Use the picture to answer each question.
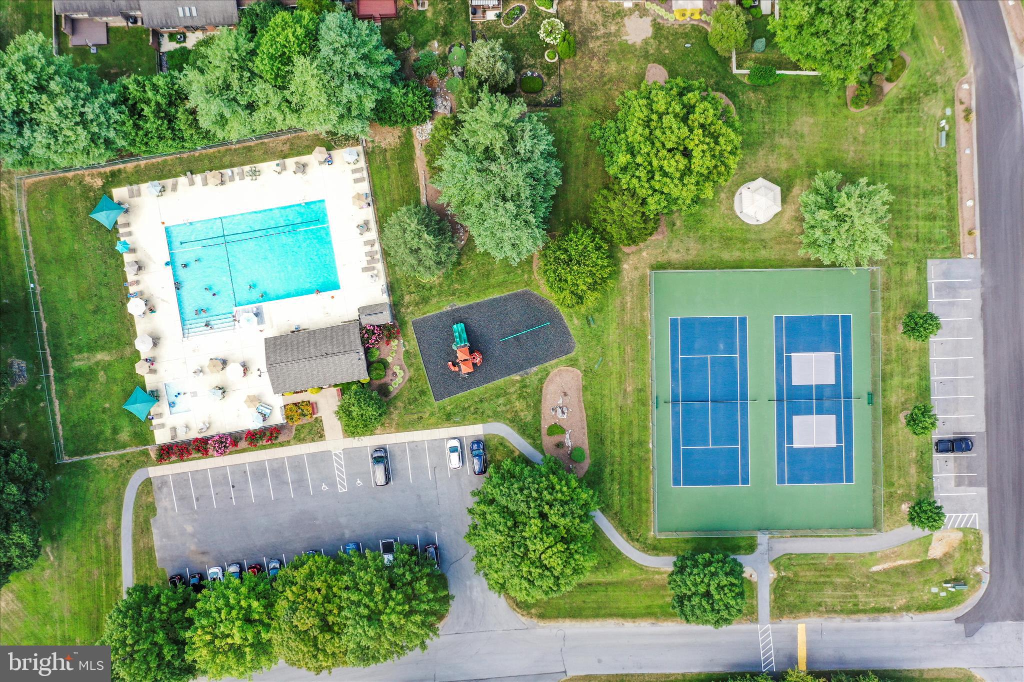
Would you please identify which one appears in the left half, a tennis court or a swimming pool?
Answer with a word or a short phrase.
swimming pool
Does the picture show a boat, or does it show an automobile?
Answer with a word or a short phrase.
automobile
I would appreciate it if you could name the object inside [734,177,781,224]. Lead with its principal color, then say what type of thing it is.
white gazebo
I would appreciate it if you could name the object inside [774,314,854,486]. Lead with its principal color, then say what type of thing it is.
blue tennis court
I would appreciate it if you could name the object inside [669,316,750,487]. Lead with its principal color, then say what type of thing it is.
blue tennis court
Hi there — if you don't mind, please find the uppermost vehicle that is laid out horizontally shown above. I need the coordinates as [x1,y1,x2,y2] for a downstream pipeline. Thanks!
[932,438,973,454]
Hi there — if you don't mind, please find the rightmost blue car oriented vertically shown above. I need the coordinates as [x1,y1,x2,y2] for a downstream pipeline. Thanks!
[470,440,487,475]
